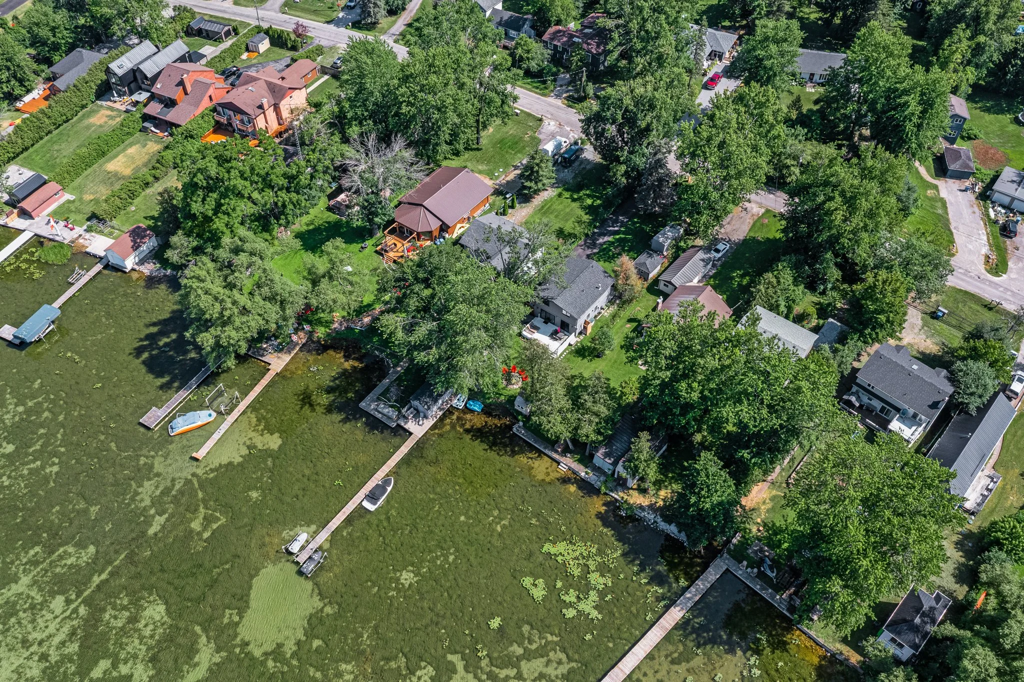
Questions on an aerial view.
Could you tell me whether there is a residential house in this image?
Yes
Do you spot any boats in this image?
Yes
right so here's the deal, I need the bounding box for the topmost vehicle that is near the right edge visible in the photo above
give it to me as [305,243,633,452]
[1002,221,1019,241]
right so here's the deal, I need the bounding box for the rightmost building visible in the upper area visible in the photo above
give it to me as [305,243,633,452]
[989,165,1024,213]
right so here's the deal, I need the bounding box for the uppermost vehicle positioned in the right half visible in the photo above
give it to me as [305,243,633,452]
[708,72,724,90]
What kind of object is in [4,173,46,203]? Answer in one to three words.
shed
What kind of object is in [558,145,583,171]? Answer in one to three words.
vehicle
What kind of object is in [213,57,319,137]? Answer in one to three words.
house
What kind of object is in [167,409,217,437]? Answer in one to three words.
boat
